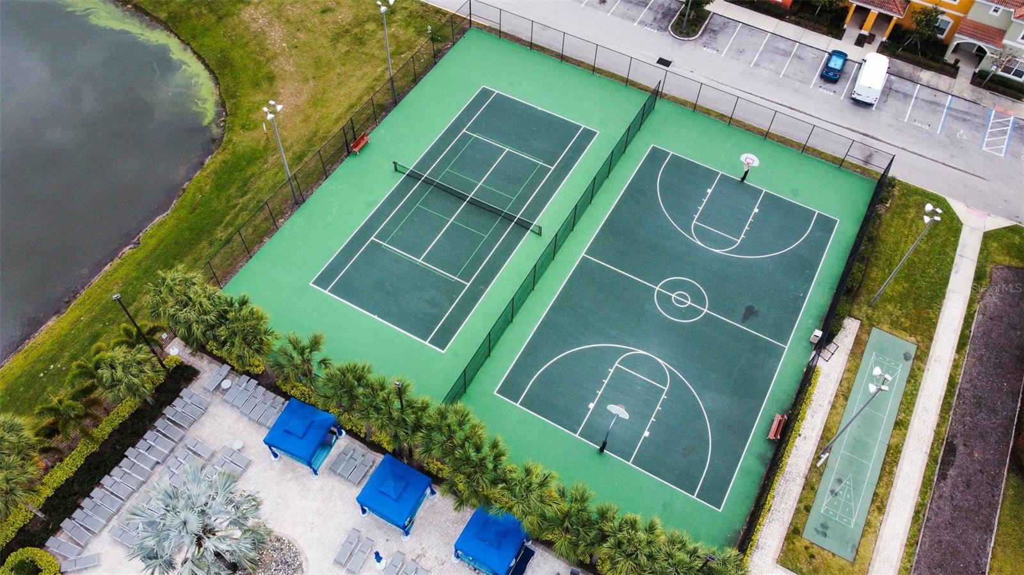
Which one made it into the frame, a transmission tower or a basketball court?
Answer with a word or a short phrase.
basketball court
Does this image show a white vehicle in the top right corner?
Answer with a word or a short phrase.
Yes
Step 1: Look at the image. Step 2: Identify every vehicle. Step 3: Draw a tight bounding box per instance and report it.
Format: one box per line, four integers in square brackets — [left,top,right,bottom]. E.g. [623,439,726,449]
[819,51,850,83]
[849,55,894,106]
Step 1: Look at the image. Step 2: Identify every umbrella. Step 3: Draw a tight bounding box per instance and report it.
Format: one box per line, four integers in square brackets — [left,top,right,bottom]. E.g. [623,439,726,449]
[374,555,388,574]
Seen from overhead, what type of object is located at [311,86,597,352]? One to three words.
tennis court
